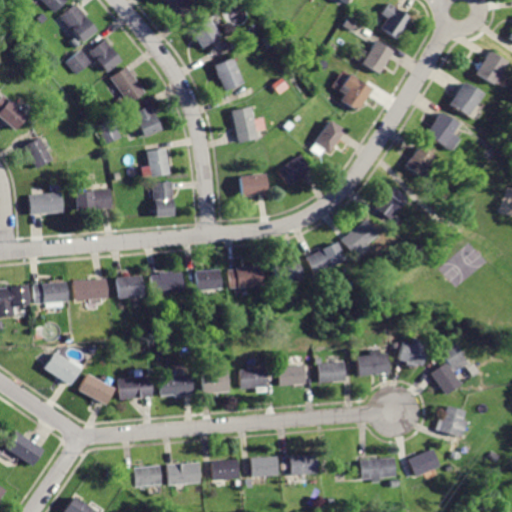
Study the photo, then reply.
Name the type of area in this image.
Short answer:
residential area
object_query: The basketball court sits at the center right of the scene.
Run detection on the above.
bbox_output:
[440,244,485,287]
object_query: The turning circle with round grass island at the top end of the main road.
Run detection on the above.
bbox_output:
[434,0,486,36]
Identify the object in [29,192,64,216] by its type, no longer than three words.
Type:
house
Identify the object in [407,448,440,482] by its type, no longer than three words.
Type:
house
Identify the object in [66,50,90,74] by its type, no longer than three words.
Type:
building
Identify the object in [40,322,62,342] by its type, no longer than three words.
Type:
swimming pool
